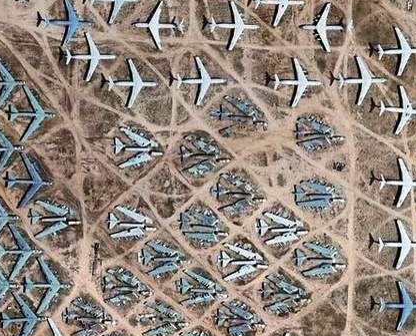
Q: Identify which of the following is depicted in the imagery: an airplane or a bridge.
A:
airplane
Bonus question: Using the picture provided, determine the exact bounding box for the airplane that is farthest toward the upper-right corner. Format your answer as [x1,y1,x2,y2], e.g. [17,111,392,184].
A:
[377,27,416,76]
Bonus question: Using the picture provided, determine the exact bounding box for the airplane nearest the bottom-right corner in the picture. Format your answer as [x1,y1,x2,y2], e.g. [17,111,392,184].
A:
[379,281,416,330]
